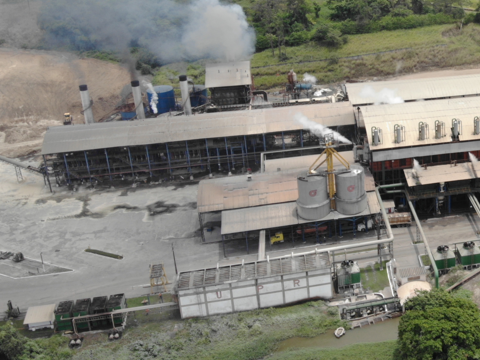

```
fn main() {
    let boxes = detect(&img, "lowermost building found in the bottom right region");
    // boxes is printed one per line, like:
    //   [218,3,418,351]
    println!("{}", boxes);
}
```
[397,264,437,321]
